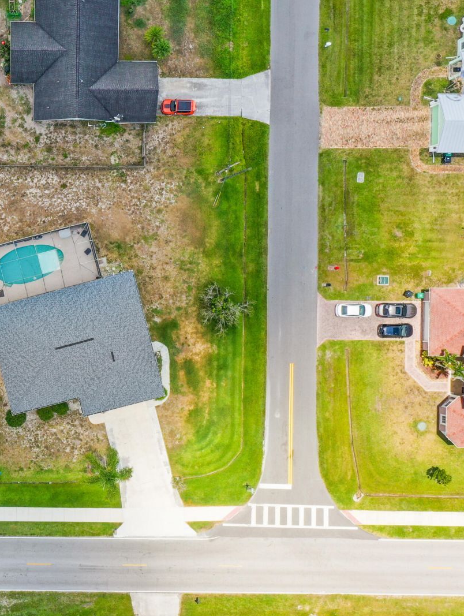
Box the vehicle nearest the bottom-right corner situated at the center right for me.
[375,323,412,340]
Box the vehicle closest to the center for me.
[333,302,371,319]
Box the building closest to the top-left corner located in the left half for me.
[11,0,160,123]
